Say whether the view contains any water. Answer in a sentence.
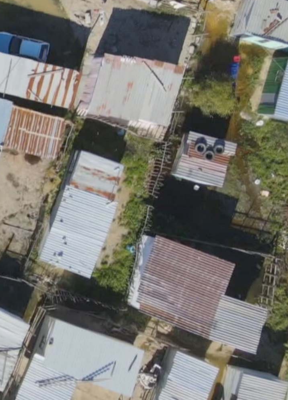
Yes, water can be seen from above here.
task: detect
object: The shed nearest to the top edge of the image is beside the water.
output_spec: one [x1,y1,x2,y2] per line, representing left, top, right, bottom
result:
[227,0,288,52]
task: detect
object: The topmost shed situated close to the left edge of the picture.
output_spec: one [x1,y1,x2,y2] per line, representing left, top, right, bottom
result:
[0,52,82,109]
